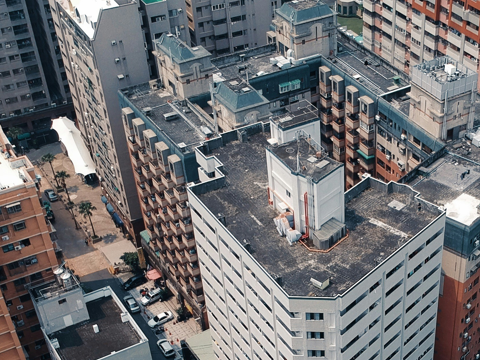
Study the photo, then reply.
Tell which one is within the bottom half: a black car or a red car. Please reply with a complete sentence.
There is a black car within the bottom half.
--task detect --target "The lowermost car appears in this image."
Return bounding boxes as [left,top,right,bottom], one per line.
[156,337,177,360]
